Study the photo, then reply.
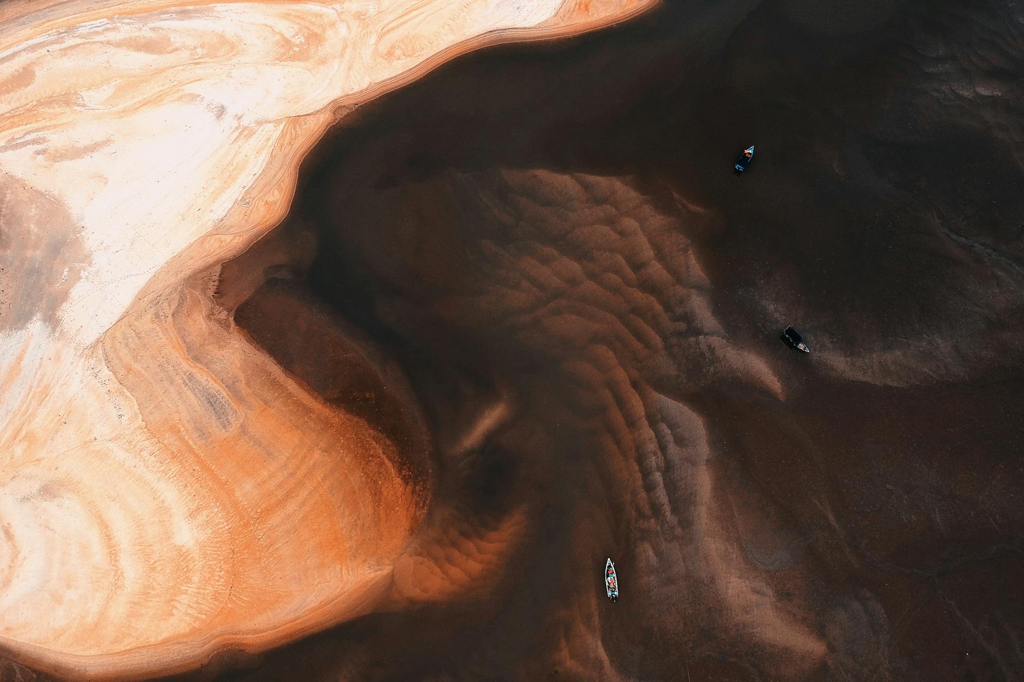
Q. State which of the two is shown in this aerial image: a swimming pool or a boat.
boat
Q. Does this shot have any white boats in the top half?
No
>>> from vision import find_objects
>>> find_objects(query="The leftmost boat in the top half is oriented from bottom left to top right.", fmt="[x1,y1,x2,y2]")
[735,144,755,172]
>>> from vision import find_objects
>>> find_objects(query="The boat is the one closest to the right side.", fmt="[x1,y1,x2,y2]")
[784,325,811,352]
